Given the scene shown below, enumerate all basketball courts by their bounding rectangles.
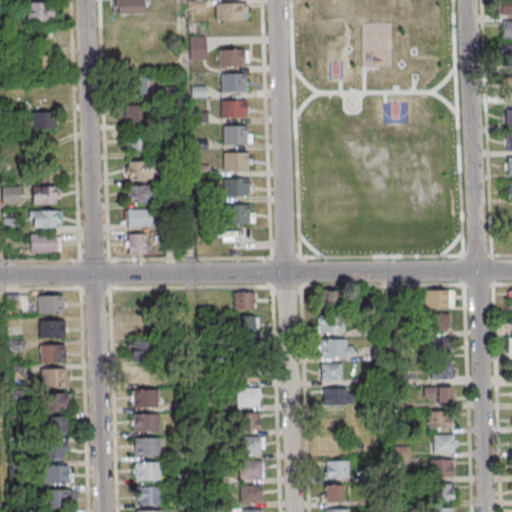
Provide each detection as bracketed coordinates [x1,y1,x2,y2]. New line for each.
[384,102,408,124]
[329,60,343,79]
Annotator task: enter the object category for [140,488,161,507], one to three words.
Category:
house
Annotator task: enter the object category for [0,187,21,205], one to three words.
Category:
building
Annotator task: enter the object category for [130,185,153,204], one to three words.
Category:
house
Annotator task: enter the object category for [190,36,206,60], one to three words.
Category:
building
